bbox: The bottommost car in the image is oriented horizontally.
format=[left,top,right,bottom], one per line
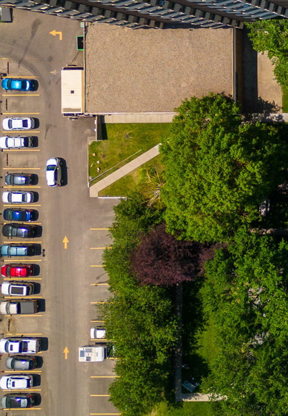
[1,393,35,409]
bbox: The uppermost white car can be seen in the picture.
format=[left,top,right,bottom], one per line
[2,116,36,131]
